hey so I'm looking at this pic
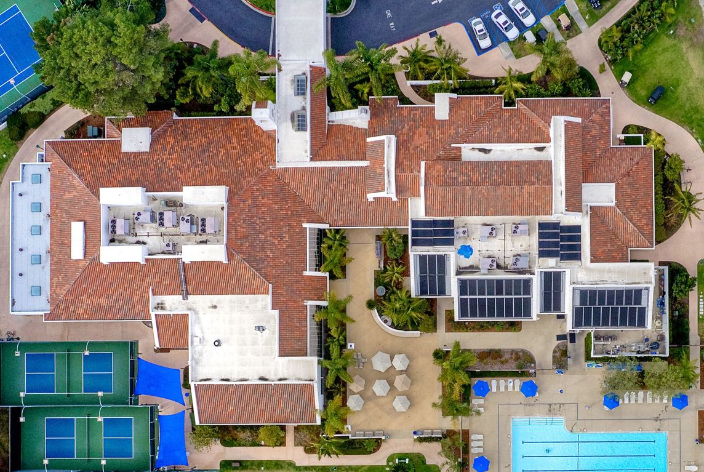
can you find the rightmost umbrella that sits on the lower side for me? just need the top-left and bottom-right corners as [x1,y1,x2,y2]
[672,392,688,410]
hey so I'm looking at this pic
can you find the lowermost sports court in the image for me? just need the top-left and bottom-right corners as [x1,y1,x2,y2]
[22,407,158,472]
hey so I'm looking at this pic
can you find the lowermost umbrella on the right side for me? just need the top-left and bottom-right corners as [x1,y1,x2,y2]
[473,456,489,472]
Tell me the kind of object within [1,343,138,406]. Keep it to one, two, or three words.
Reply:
sports court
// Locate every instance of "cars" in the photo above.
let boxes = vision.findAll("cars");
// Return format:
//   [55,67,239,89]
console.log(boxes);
[492,10,518,40]
[510,0,534,26]
[469,17,490,48]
